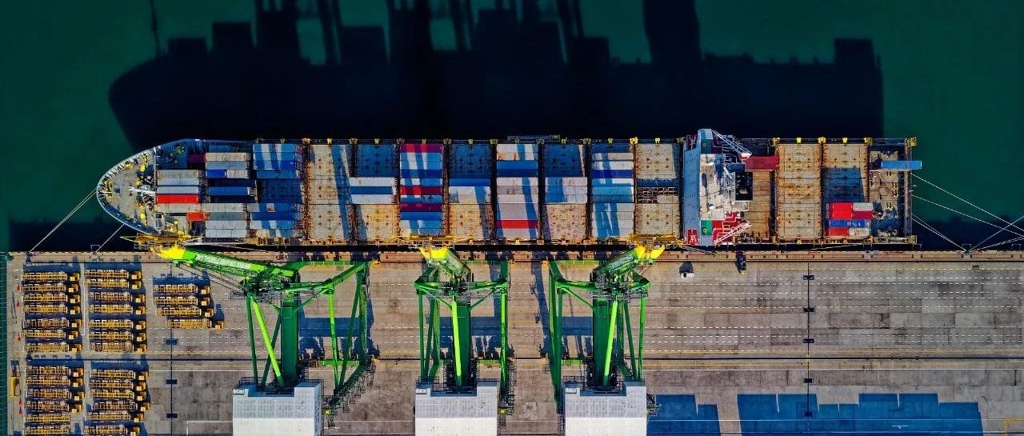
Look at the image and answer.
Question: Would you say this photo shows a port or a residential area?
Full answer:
This looks like a port.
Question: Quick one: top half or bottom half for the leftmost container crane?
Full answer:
Seen from above, the leftmost container crane lies in the bottom half of the view.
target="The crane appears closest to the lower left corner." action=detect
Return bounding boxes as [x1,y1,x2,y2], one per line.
[121,230,379,436]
